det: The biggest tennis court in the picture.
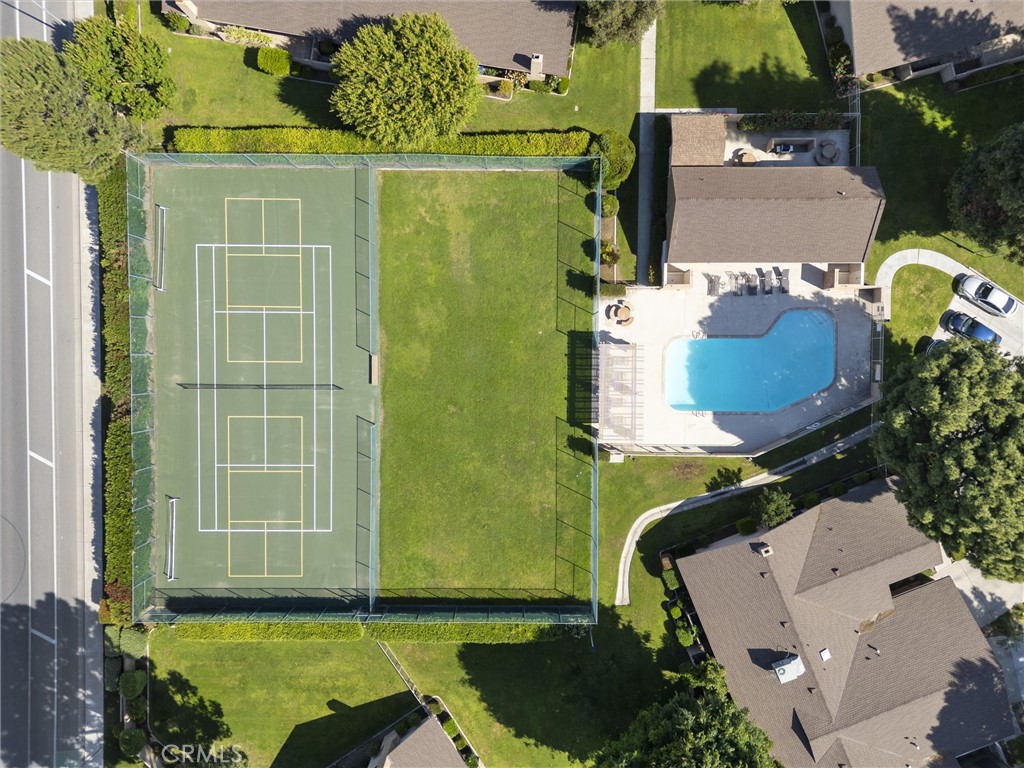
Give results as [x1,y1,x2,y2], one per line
[154,168,381,605]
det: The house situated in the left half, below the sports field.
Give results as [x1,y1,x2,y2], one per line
[330,710,468,768]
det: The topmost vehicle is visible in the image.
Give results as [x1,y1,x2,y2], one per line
[953,276,1015,320]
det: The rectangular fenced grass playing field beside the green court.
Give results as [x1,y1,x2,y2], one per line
[380,170,593,604]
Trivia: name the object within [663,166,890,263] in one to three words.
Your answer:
building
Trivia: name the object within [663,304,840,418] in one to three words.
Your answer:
swimming pool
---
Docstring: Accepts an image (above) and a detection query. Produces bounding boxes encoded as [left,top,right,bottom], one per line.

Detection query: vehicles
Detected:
[953,276,1015,320]
[913,341,961,374]
[940,311,999,351]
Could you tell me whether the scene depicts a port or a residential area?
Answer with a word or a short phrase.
residential area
